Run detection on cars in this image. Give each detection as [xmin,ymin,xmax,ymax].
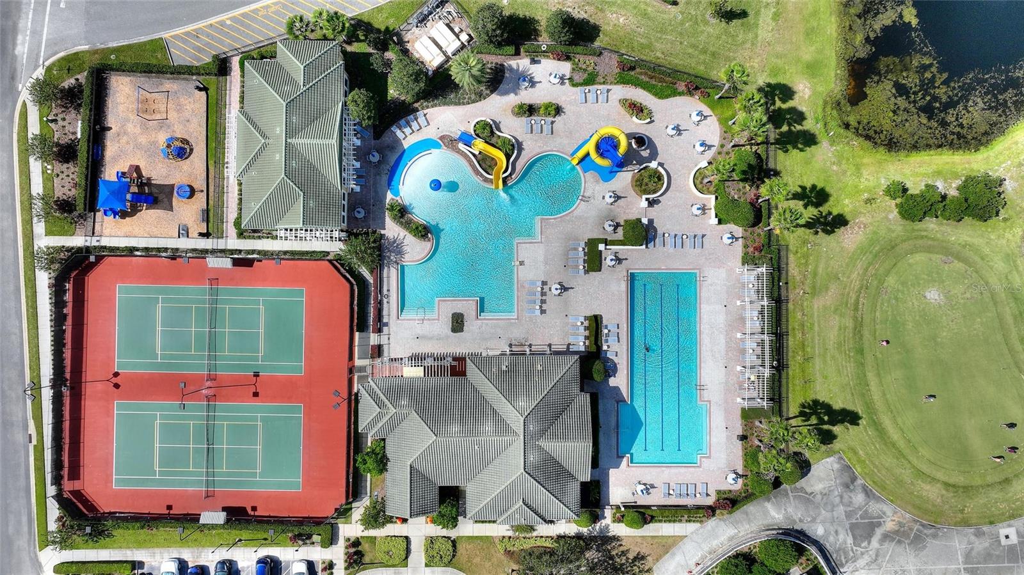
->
[188,564,205,575]
[160,557,181,575]
[213,558,233,575]
[291,558,310,575]
[253,555,273,575]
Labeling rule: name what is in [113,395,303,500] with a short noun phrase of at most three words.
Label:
tennis court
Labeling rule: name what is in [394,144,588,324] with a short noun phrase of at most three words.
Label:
swimming pool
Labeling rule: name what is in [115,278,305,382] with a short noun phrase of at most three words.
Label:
tennis court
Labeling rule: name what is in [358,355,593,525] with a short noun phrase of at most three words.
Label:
building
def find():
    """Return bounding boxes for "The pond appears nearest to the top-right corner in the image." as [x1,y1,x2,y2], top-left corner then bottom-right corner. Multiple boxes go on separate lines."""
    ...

[836,0,1024,147]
